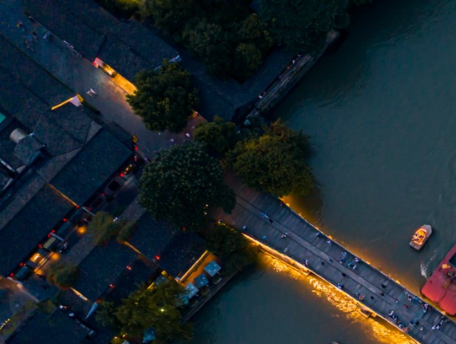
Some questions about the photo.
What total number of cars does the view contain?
zero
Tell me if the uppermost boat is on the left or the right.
right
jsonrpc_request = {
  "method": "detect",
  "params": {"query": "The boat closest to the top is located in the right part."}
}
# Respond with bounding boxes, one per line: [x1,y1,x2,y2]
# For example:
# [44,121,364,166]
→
[409,224,429,252]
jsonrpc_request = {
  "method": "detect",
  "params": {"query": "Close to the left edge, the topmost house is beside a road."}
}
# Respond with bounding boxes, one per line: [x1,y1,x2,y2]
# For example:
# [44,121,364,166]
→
[22,0,126,62]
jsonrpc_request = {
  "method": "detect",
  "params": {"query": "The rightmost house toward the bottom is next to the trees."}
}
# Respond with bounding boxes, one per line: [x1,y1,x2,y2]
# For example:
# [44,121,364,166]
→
[150,223,210,279]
